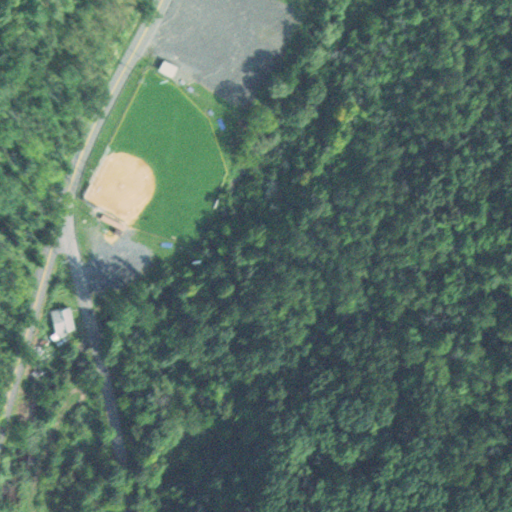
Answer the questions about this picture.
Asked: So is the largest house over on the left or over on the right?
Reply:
left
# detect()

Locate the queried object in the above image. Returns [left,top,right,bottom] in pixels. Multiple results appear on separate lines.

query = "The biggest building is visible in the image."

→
[51,308,74,336]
